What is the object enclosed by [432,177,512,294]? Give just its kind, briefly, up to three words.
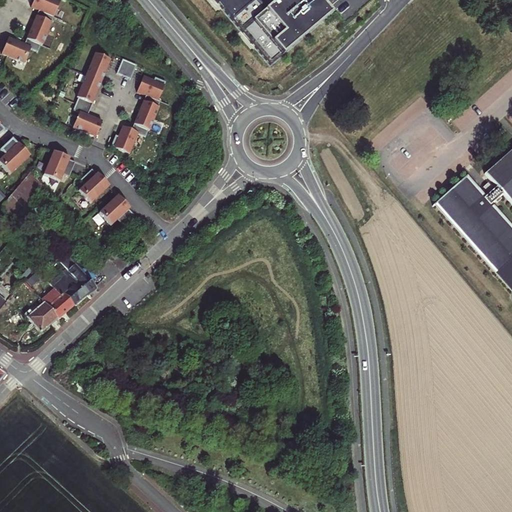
building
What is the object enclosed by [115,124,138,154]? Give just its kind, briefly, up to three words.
house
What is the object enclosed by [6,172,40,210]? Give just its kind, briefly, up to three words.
barn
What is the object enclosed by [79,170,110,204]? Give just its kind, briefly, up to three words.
house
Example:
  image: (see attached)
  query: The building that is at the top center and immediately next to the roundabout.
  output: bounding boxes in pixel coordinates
[208,0,334,64]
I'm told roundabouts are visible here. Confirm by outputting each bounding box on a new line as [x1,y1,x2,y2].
[228,101,308,182]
